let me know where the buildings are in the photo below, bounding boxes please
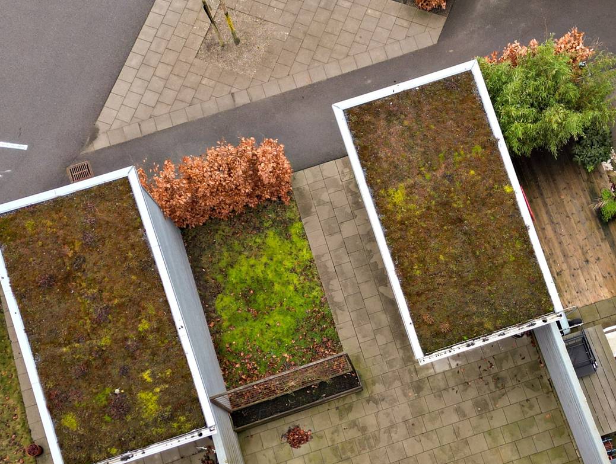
[335,63,563,370]
[0,165,229,464]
